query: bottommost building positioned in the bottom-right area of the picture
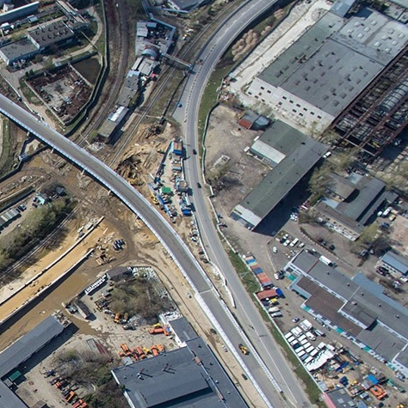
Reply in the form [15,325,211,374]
[319,388,358,408]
